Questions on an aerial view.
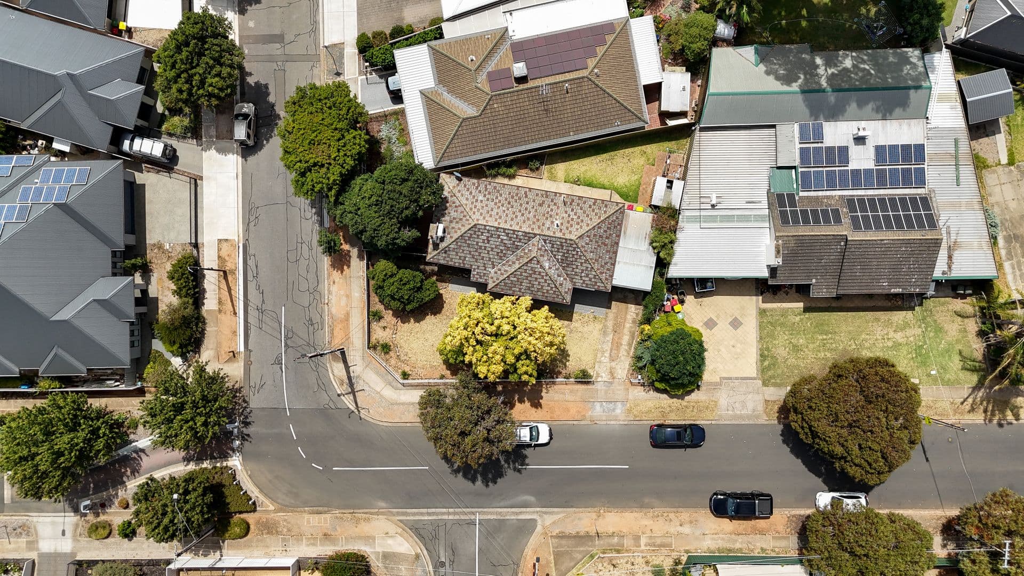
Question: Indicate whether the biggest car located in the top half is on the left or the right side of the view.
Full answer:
The biggest car located in the top half is on the left side of the image.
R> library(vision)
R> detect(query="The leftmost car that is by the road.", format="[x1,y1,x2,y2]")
[230,98,260,147]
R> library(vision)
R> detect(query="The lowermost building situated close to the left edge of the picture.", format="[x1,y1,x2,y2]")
[0,153,146,376]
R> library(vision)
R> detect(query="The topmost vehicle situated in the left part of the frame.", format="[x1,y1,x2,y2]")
[385,74,405,101]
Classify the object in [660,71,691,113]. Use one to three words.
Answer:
shed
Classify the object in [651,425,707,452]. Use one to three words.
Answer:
car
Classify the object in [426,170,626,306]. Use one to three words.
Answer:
house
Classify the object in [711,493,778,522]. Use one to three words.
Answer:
truck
